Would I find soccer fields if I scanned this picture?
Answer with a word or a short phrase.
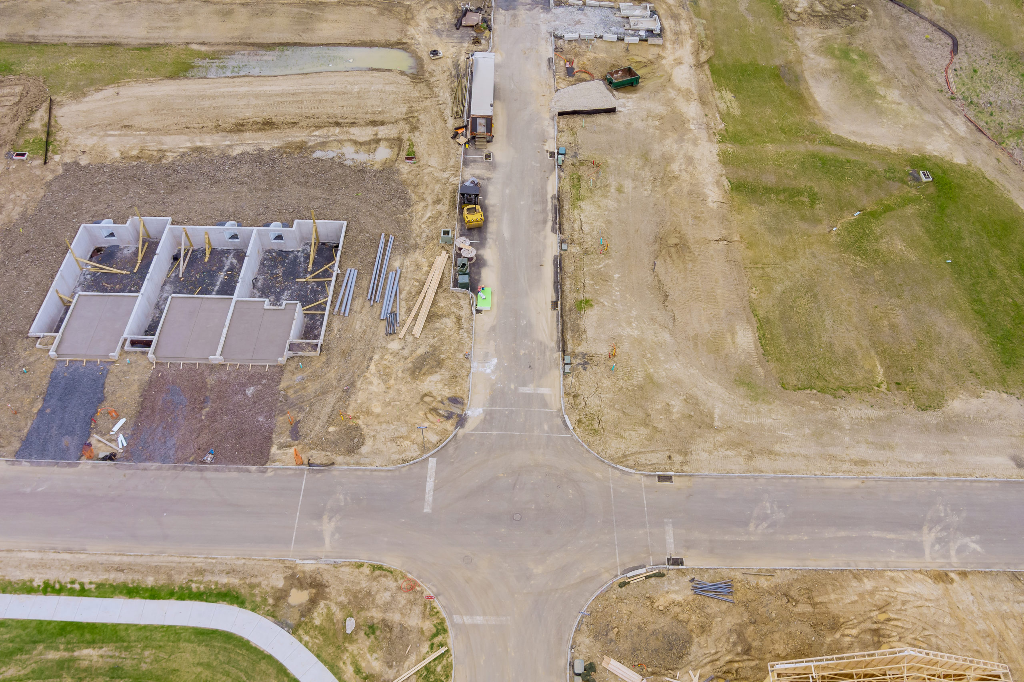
No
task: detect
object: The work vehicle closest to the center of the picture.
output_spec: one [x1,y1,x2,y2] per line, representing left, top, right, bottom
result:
[462,176,484,222]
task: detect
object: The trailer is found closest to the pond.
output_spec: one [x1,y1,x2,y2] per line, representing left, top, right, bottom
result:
[470,52,495,137]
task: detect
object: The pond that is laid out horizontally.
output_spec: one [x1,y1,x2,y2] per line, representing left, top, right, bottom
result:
[188,46,413,78]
